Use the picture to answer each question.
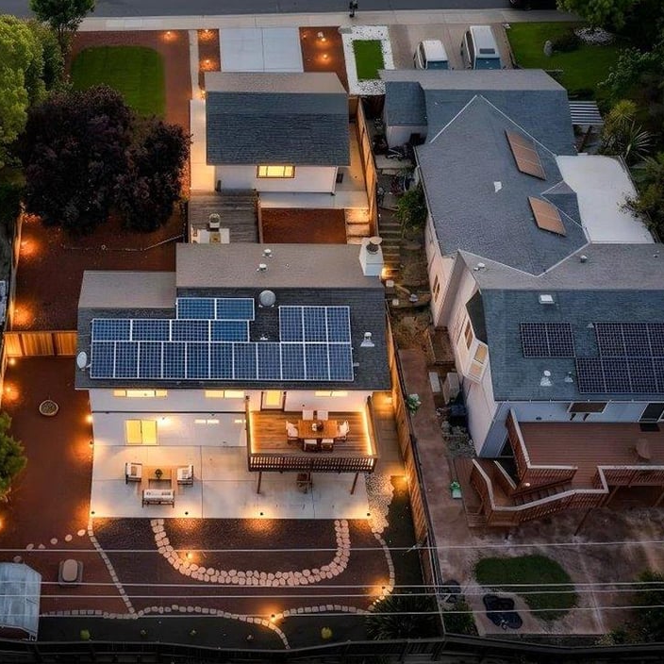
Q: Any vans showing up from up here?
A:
Yes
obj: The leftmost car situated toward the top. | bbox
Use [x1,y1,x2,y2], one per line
[418,37,451,71]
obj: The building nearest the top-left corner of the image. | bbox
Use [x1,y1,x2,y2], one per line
[206,72,350,195]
